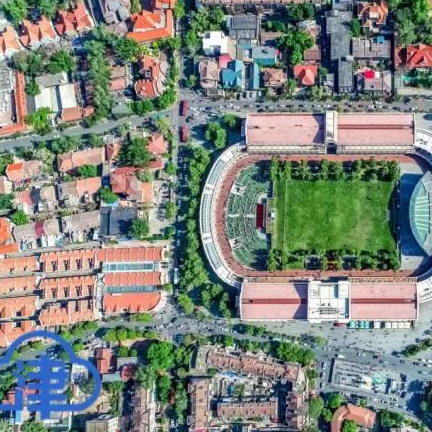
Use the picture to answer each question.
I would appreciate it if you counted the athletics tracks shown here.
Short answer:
one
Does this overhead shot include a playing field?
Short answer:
Yes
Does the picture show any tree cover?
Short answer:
Yes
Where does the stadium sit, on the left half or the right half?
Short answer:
right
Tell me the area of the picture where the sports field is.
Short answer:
right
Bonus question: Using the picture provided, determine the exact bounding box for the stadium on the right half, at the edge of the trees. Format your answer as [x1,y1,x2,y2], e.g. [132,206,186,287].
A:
[199,111,432,323]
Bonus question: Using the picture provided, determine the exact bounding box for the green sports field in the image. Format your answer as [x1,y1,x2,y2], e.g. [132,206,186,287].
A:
[266,161,400,269]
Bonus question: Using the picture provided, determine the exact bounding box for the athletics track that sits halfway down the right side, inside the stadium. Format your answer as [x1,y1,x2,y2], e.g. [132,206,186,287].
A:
[215,151,416,278]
